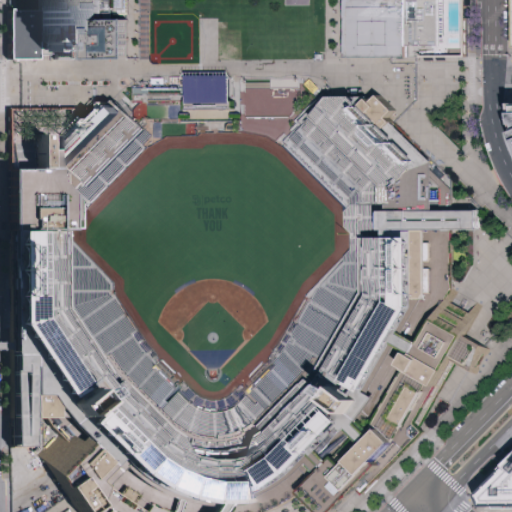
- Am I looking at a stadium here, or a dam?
stadium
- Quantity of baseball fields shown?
2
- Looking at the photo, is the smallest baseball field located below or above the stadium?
above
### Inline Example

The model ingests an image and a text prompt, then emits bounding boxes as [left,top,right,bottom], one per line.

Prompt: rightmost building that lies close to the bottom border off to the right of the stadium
[470,452,512,506]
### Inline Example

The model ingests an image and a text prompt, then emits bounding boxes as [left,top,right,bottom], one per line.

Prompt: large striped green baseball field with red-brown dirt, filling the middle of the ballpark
[72,130,350,400]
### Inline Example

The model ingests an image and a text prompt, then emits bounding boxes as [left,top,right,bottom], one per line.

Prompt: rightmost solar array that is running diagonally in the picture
[338,304,393,378]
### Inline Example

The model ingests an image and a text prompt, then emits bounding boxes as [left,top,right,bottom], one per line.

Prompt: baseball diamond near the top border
[151,12,200,64]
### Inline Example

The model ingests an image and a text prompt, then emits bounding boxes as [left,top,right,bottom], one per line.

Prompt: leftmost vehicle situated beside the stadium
[304,80,321,96]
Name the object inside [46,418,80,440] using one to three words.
shed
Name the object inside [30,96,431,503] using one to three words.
stadium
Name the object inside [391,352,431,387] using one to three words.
house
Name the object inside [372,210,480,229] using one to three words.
building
